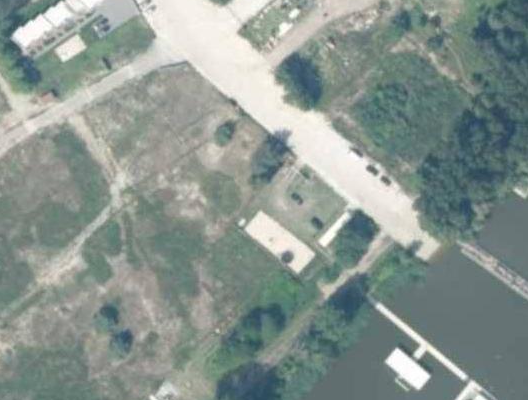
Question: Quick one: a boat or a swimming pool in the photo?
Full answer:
This aerial view contains a boat.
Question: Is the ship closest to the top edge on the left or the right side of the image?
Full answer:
The ship closest to the top edge sits on the right side.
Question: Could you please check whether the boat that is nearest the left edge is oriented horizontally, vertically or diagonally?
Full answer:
In this picture, the boat that is nearest the left edge is oriented diagonally.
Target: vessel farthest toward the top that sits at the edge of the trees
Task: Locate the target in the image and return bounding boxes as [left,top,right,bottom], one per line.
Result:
[460,238,528,301]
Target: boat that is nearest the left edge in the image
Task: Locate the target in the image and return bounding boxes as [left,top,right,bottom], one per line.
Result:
[385,348,431,390]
